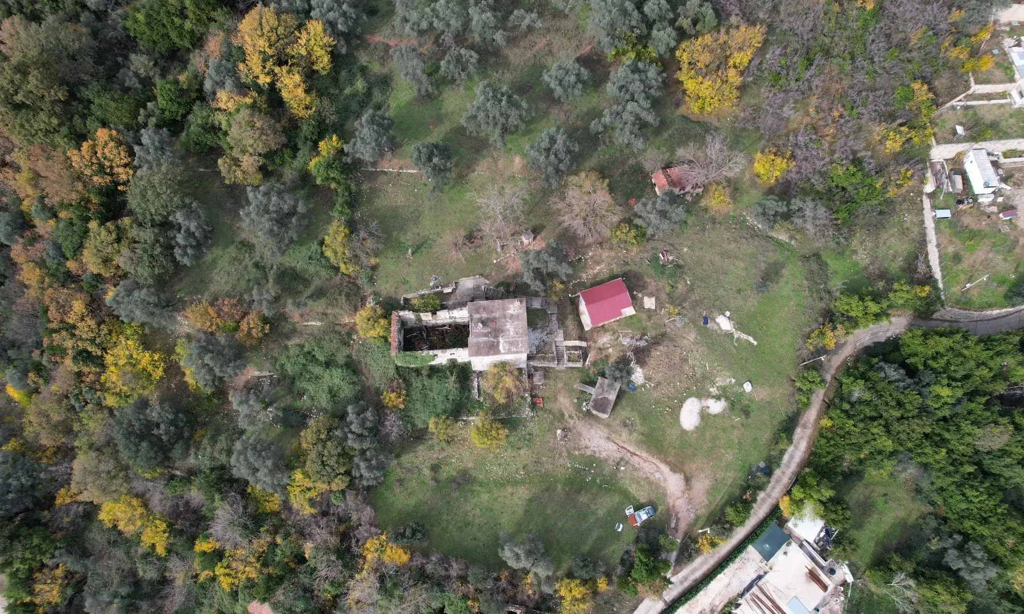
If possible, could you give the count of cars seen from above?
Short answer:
1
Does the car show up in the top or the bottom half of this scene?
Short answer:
bottom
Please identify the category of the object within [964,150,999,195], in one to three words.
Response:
shed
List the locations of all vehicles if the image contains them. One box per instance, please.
[626,503,657,526]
